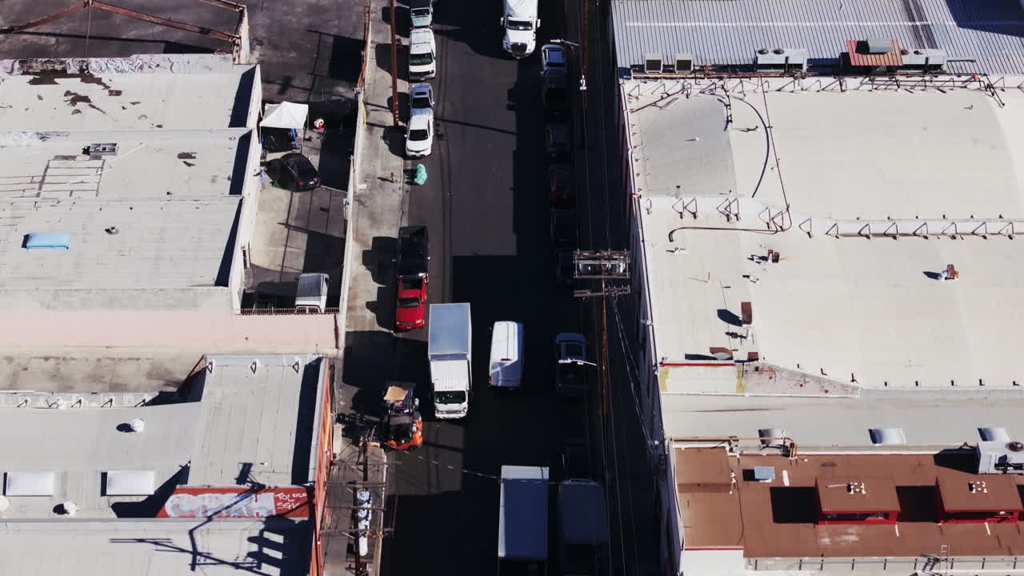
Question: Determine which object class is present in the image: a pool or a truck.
truck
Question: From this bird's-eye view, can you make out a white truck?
Yes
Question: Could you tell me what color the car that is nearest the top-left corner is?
black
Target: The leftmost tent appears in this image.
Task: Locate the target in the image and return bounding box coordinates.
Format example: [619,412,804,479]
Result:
[263,104,308,154]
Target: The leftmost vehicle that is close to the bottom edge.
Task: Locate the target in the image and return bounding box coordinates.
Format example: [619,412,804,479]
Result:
[497,465,551,576]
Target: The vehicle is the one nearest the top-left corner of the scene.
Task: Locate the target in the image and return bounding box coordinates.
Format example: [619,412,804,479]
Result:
[271,154,318,194]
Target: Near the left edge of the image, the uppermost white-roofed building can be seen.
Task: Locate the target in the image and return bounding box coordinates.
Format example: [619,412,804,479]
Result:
[0,52,270,355]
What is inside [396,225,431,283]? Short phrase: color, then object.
black truck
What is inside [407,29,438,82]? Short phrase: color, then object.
white van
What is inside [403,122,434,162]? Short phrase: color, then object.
white car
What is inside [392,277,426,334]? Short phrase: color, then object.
red truck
